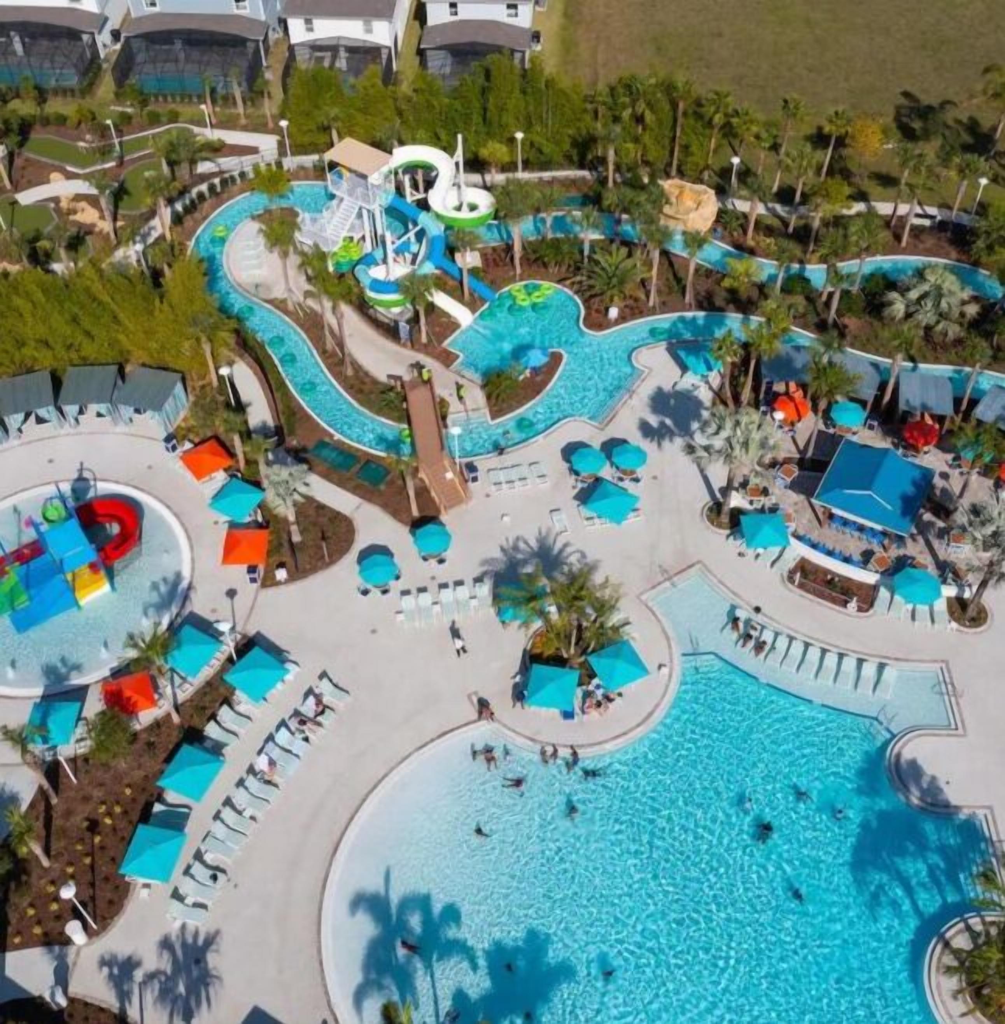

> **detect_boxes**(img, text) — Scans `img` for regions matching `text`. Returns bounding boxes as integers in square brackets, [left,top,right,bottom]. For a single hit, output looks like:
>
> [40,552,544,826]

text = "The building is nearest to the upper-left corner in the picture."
[0,0,137,91]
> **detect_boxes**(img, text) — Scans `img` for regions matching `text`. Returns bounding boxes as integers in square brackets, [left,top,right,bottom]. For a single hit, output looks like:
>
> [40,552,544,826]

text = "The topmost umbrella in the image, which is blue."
[522,352,552,392]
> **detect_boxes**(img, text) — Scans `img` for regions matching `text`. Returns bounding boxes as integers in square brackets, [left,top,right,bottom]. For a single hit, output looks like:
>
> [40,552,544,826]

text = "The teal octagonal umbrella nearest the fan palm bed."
[357,555,400,592]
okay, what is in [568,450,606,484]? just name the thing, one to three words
umbrella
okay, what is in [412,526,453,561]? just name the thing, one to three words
umbrella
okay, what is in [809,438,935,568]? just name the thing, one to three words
shed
